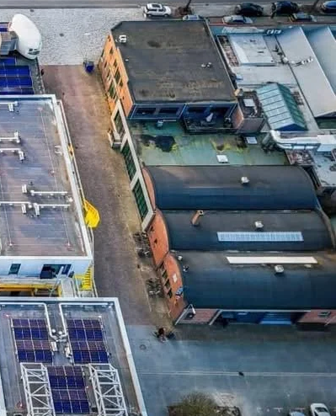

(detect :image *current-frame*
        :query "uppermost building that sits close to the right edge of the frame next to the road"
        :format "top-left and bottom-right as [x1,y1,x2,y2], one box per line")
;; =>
[208,16,336,143]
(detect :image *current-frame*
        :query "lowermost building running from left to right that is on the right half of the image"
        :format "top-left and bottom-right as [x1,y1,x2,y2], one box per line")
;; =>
[153,249,336,333]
